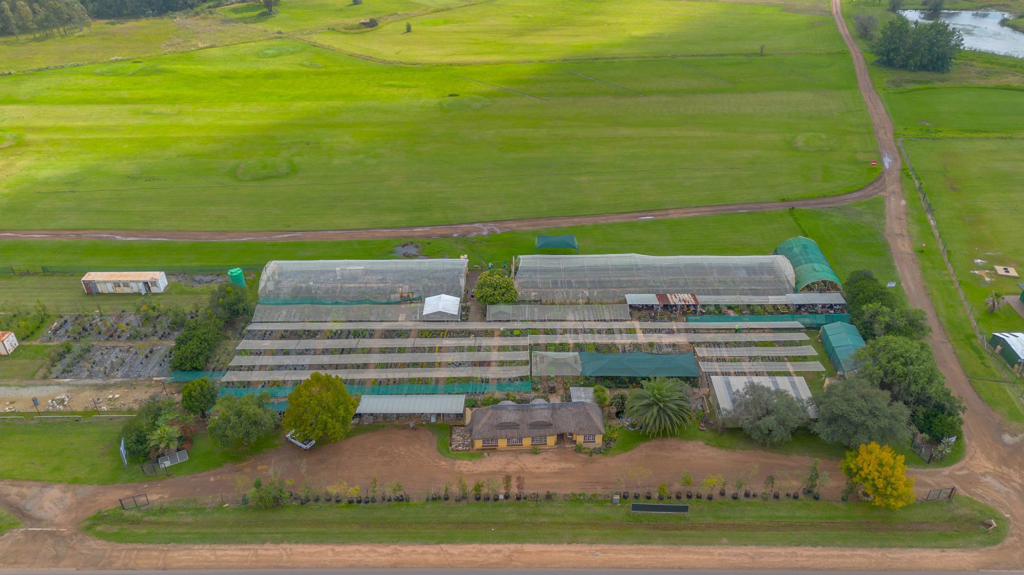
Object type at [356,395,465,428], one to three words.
shed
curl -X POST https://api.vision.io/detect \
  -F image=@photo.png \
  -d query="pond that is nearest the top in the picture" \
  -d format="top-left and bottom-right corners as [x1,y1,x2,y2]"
[905,9,1024,58]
